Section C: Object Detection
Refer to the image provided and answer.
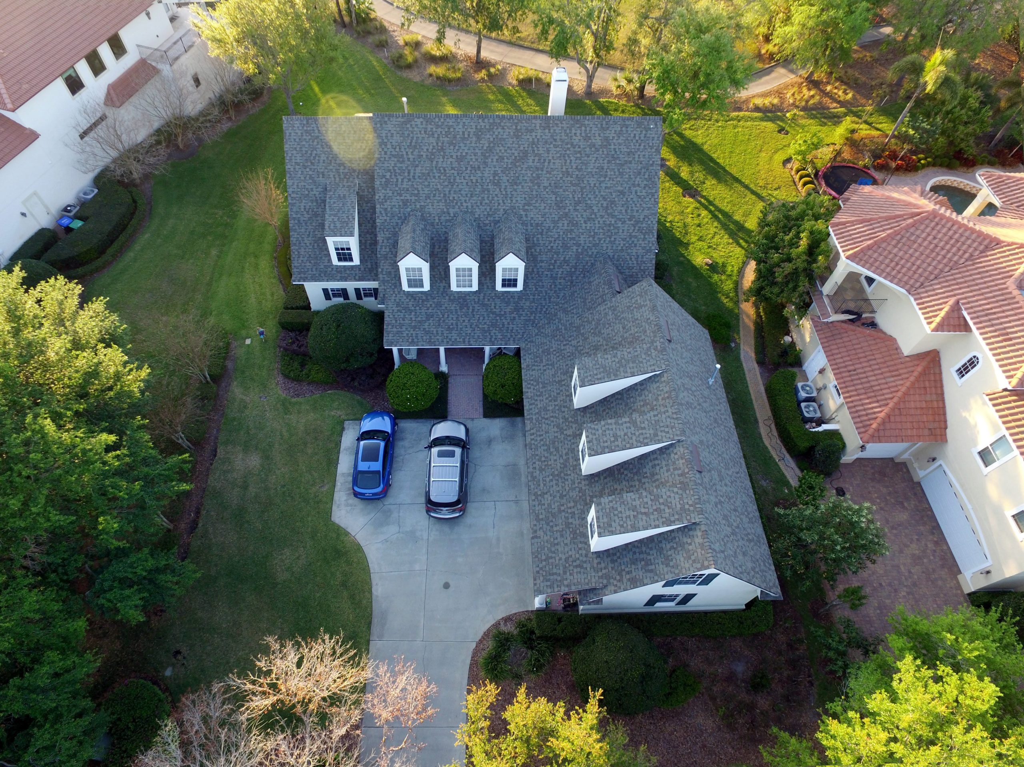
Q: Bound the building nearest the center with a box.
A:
[282,63,782,615]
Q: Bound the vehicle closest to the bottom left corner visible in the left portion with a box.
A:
[349,411,398,504]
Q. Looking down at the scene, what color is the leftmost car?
blue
